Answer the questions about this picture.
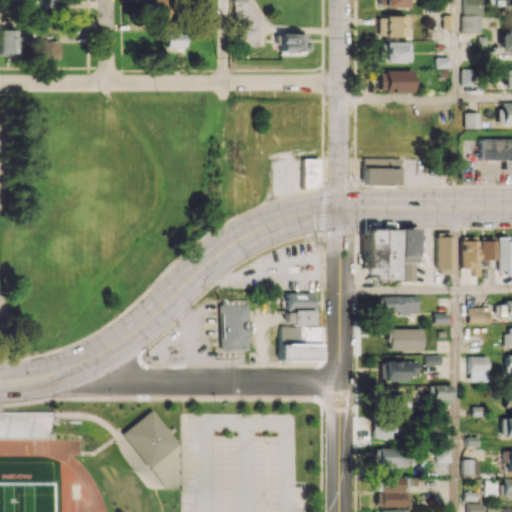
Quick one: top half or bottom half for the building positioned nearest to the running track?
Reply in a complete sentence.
The building positioned nearest to the running track is in the bottom half of the image.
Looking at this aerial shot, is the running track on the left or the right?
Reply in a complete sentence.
You can find the running track on the left side of the picture.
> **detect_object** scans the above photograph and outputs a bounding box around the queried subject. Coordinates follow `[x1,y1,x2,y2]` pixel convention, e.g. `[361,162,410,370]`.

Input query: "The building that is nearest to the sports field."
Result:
[126,411,182,468]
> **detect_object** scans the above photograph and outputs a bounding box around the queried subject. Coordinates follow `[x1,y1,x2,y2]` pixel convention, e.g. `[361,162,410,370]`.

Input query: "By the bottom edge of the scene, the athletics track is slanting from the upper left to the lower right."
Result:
[0,440,107,512]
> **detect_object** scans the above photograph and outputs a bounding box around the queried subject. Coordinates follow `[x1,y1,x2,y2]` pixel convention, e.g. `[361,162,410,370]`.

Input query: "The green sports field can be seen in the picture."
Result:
[0,457,62,512]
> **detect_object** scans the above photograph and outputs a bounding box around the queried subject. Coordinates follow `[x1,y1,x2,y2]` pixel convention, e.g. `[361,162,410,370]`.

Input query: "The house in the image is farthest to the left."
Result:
[2,30,20,55]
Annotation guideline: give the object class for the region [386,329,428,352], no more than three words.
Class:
house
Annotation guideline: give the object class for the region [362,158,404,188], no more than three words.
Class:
building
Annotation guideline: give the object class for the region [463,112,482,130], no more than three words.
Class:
building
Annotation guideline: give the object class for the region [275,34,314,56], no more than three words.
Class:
house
